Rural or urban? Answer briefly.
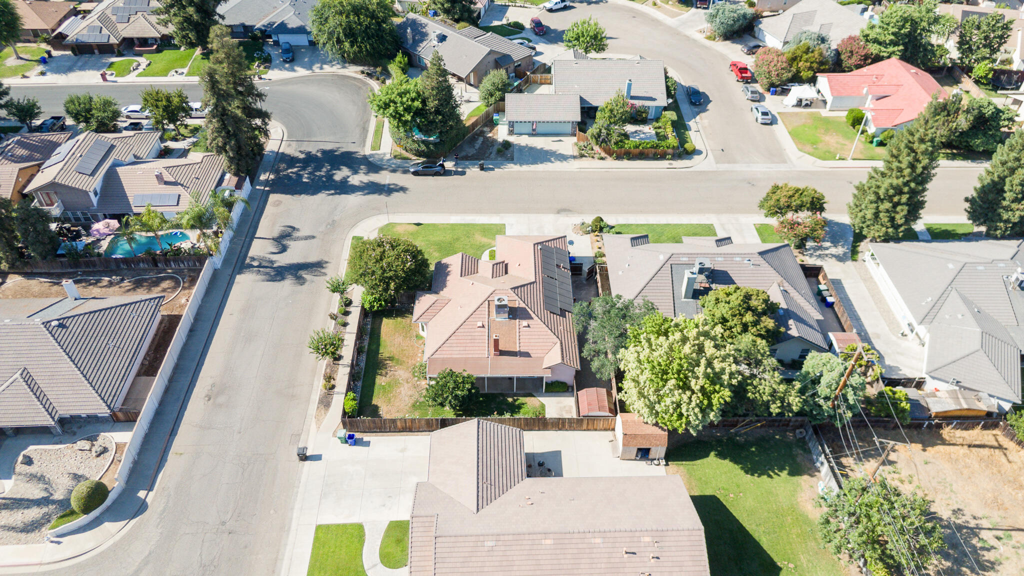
urban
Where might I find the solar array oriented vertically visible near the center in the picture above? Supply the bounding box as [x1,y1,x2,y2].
[542,240,576,331]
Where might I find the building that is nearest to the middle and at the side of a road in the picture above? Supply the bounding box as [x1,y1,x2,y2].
[411,235,581,390]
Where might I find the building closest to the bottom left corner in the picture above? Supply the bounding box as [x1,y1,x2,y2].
[0,285,164,440]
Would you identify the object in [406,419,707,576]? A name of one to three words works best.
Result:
house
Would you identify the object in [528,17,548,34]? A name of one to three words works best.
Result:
car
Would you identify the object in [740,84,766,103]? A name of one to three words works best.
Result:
car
